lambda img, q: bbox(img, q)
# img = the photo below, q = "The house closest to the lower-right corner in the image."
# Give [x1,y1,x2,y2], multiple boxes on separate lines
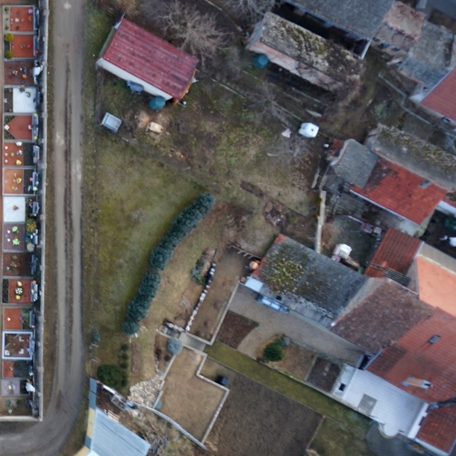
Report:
[399,400,456,456]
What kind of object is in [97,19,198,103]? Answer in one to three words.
house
